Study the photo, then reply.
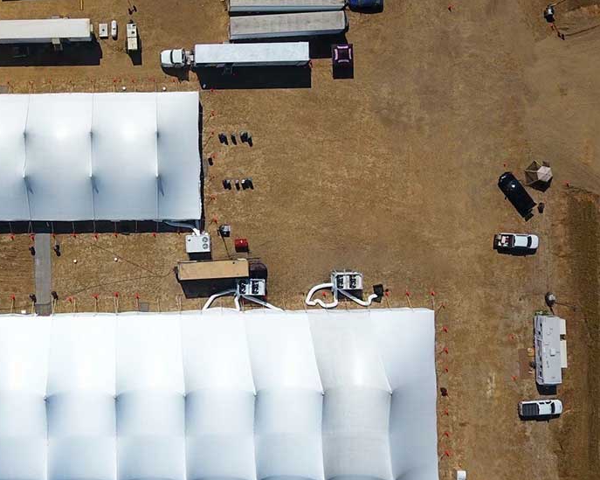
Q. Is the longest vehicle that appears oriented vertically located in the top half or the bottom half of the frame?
bottom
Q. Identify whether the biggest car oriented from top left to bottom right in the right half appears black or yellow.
black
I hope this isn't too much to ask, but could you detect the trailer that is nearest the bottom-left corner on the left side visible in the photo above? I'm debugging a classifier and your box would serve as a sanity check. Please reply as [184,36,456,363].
[178,258,249,280]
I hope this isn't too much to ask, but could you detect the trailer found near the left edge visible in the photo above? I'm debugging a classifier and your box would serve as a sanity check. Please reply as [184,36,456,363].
[0,18,94,55]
